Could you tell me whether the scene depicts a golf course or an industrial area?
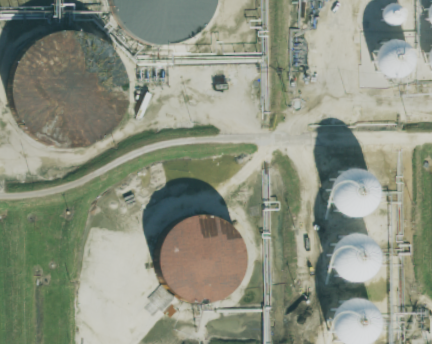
industrial area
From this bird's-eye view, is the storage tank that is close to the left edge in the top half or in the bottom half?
top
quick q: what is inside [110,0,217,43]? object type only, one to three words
storage tank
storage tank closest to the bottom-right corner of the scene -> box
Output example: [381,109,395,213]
[324,298,384,344]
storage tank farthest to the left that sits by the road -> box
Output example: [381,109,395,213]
[6,29,128,146]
